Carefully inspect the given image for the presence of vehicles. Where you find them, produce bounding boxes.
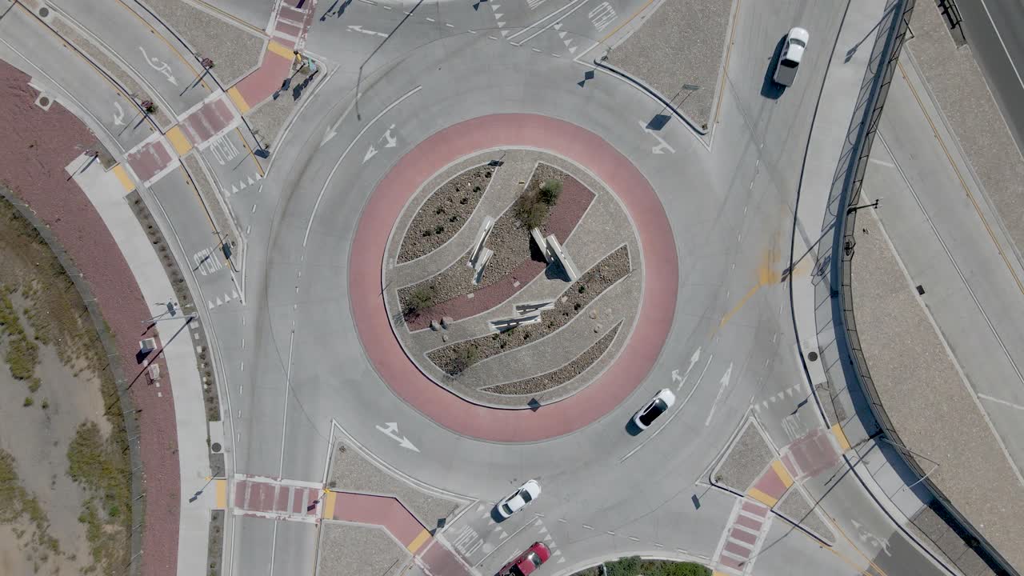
[498,480,542,520]
[635,389,678,432]
[495,542,552,576]
[771,27,808,90]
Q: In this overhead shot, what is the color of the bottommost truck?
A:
red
